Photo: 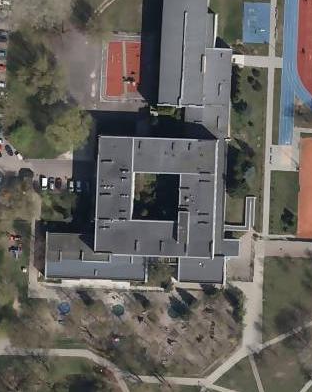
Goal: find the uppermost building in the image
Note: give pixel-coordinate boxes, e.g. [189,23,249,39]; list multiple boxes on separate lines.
[157,0,233,137]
